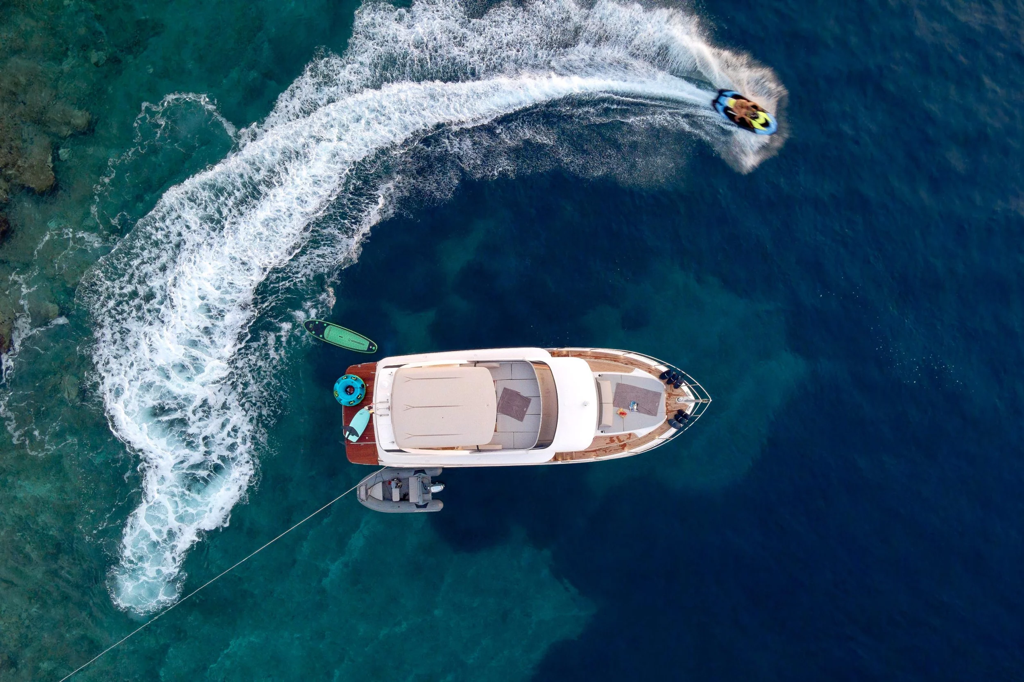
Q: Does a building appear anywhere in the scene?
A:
No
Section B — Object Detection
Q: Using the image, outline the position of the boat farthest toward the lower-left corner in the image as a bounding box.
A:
[356,467,444,513]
